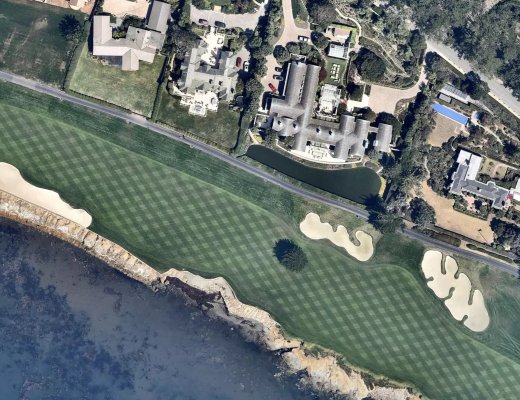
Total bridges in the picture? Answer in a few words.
0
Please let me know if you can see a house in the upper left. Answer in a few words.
Yes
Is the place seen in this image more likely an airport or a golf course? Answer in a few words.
golf course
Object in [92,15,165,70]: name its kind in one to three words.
house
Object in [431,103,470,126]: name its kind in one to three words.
swimming pool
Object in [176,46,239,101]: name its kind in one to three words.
house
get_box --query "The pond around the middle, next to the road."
[247,144,381,203]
